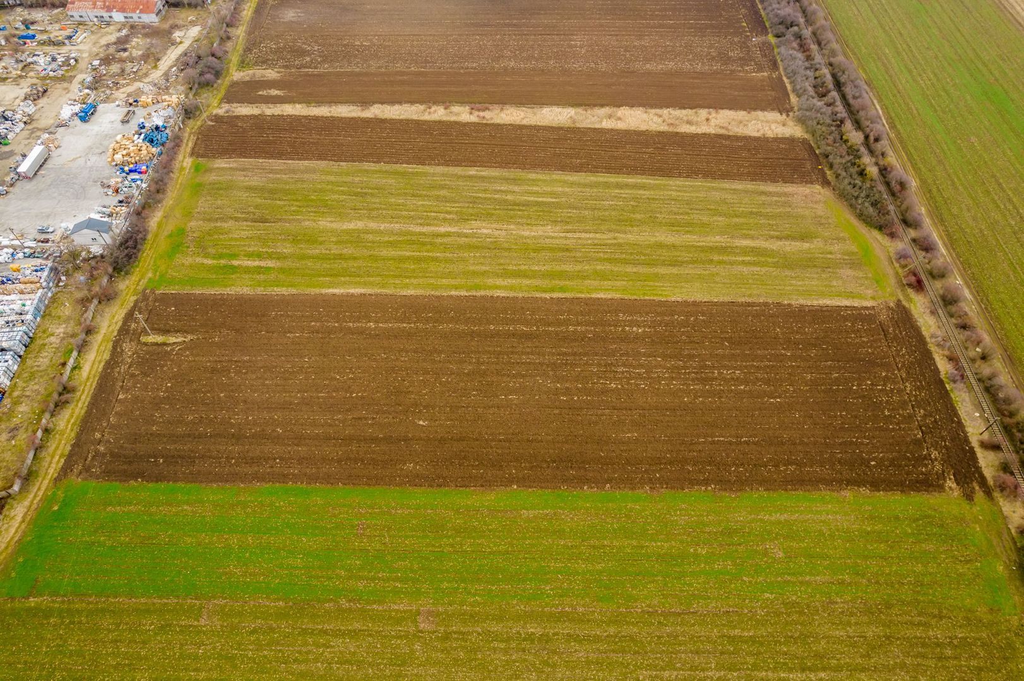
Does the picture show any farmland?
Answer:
Yes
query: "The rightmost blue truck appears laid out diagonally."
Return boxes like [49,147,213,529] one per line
[73,100,100,122]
